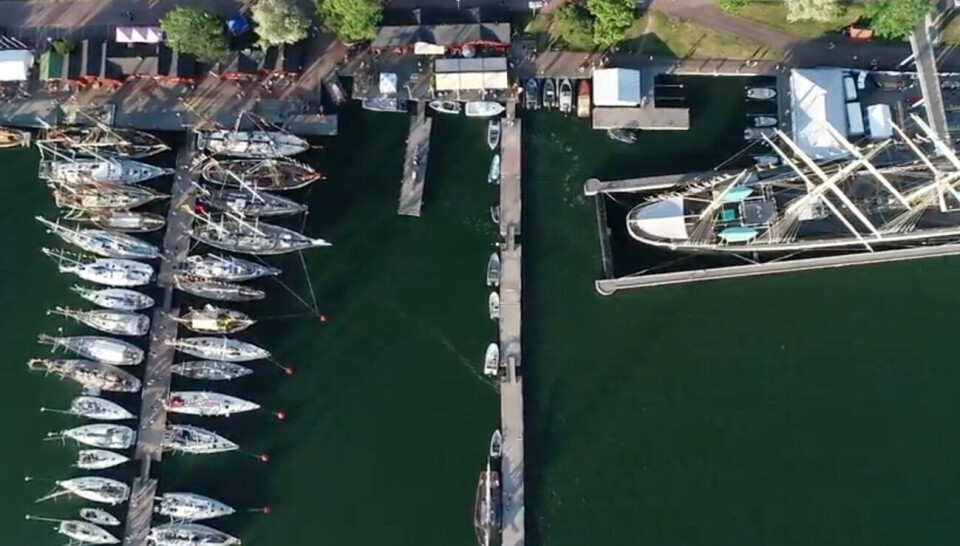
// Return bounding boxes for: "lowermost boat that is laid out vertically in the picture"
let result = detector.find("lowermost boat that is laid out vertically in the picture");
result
[475,456,503,546]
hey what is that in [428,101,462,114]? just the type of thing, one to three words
boat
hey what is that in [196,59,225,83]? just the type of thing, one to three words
shed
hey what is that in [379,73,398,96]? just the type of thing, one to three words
tent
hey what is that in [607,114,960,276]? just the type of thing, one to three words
ship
